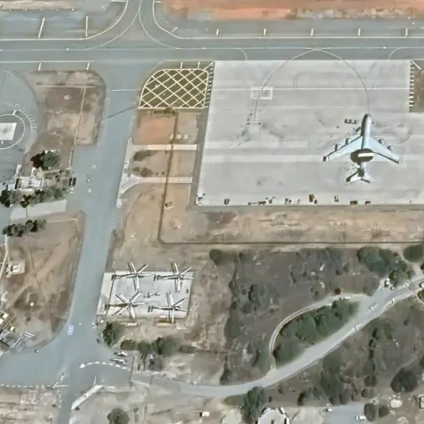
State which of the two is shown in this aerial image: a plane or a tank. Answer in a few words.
plane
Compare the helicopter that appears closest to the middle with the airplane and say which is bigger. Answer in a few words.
the airplane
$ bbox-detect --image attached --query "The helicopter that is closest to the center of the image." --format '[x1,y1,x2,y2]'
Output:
[153,259,196,291]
